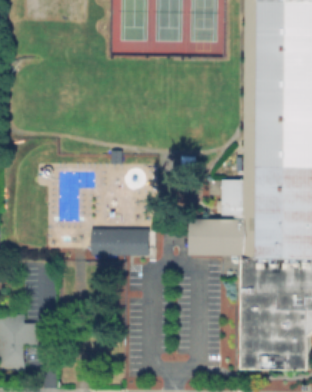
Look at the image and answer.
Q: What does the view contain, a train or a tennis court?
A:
tennis court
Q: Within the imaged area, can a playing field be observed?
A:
Yes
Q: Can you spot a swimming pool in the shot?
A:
Yes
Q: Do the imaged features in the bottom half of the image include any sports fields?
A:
No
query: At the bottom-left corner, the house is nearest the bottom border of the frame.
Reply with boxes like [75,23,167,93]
[0,320,37,370]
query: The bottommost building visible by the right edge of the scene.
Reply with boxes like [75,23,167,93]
[242,260,312,370]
